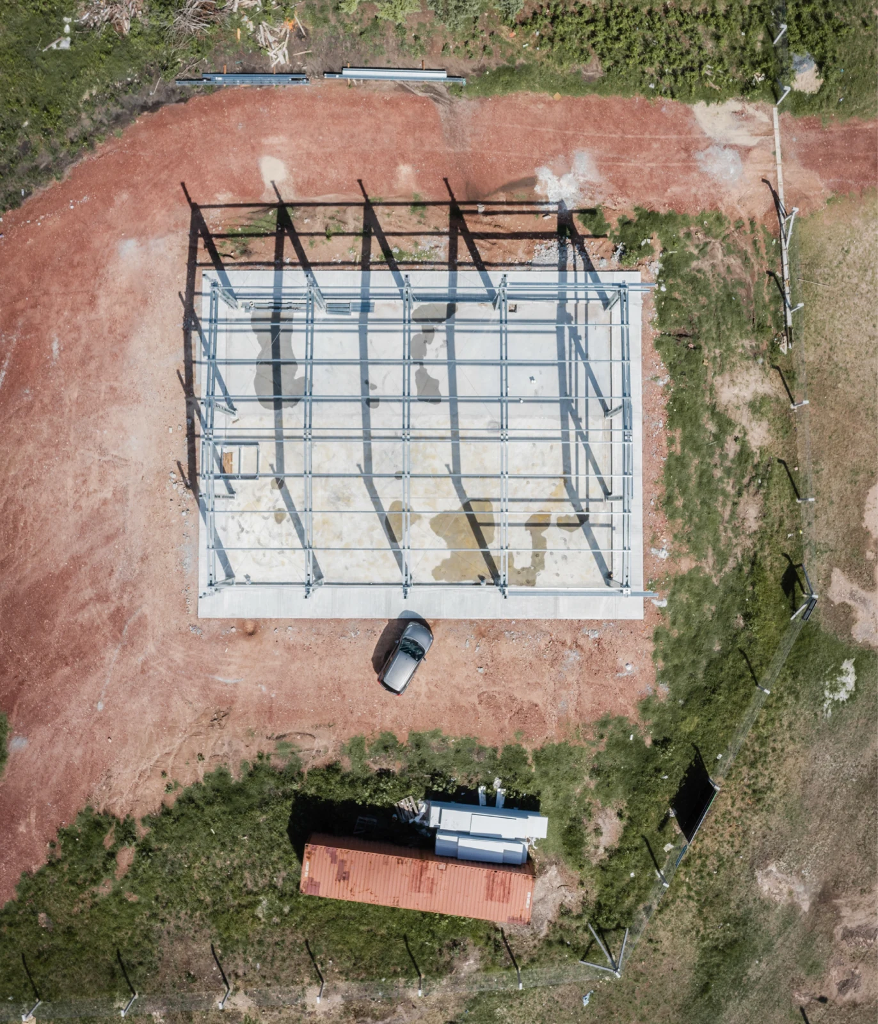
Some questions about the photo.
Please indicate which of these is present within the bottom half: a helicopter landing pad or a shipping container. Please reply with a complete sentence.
The feature located within the bottom half is a shipping container.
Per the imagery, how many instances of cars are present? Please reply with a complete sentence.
The picture shows 1 car.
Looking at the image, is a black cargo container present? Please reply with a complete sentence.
No, I find no black cargo container anywhere in the image.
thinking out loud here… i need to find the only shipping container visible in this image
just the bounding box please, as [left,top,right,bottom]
[300,829,535,925]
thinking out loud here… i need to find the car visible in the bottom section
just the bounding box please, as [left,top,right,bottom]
[377,620,431,695]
